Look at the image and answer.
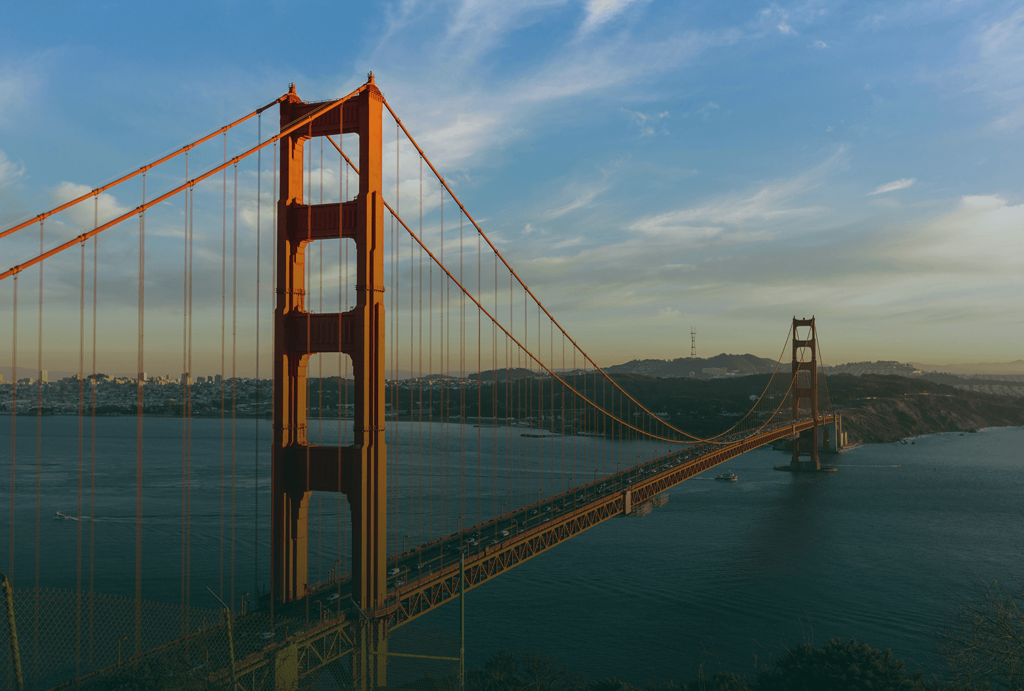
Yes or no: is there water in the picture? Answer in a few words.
Yes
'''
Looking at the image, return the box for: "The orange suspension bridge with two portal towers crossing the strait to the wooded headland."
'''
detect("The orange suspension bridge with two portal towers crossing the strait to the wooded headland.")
[0,72,844,691]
